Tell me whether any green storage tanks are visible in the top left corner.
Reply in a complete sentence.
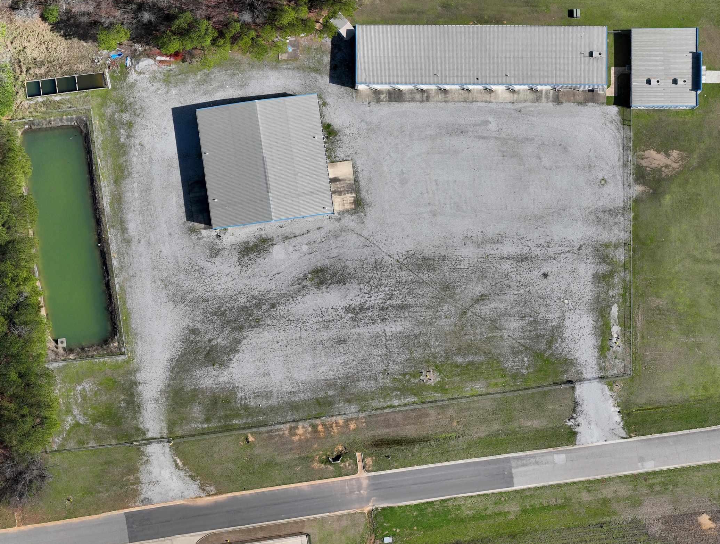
No, I can find no green storage tank in the top left corner.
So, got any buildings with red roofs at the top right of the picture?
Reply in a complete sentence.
No, at the top right of the picture there is no building with a red roof.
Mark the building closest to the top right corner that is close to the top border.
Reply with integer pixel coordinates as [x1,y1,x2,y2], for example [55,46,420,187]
[629,27,706,113]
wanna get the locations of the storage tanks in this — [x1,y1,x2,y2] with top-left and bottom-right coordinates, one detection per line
[25,70,110,98]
